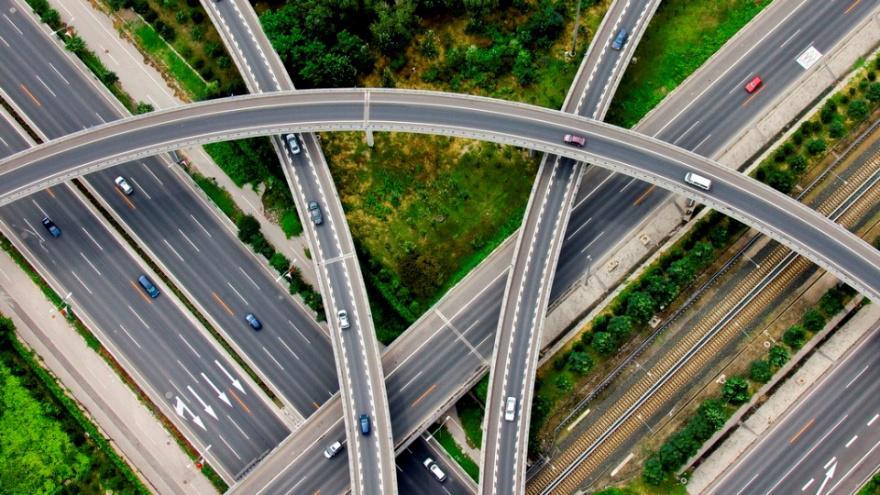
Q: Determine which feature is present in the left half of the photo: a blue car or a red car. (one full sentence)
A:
What appears in the left half of the photo is a blue car.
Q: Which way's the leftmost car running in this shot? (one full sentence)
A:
The leftmost car is laid out on a diagonal.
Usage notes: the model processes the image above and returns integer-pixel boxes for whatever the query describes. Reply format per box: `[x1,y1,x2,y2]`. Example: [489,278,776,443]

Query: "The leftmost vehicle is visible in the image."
[41,217,61,239]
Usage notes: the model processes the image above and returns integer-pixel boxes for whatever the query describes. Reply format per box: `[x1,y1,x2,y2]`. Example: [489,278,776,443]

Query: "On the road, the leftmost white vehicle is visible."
[114,176,135,196]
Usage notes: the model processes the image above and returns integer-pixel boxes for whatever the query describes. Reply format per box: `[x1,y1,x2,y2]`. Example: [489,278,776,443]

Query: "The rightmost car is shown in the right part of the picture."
[744,76,763,94]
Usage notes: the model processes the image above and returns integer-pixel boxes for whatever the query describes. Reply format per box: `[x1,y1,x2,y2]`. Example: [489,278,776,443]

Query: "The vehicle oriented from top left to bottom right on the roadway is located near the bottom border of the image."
[423,458,444,480]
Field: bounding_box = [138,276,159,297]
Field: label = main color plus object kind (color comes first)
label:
blue car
